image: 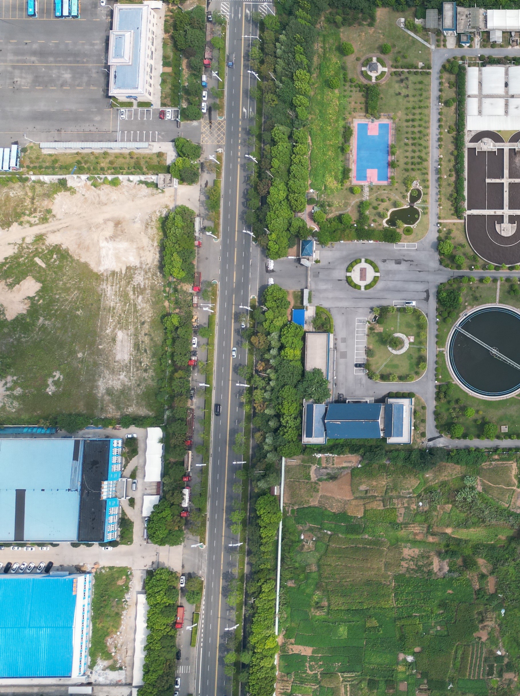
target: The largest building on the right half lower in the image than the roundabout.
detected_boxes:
[303,398,414,443]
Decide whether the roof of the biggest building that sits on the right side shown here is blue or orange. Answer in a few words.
blue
